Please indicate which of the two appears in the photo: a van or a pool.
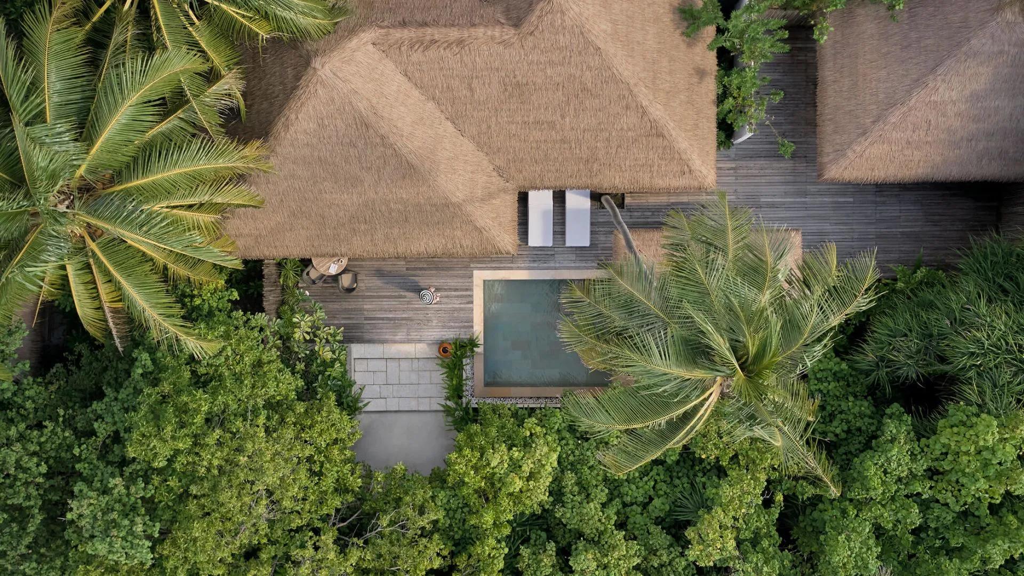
pool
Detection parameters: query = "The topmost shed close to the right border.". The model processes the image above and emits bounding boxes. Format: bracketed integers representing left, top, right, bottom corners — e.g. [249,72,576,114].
[808,0,1024,191]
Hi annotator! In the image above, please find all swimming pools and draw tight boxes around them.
[474,271,620,397]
